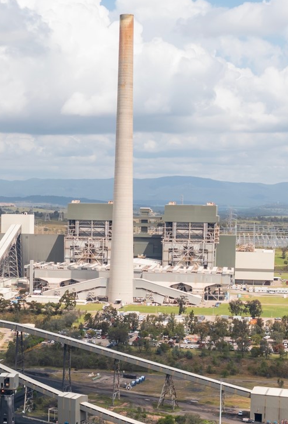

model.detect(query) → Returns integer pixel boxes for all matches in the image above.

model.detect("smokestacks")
[110,13,135,305]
